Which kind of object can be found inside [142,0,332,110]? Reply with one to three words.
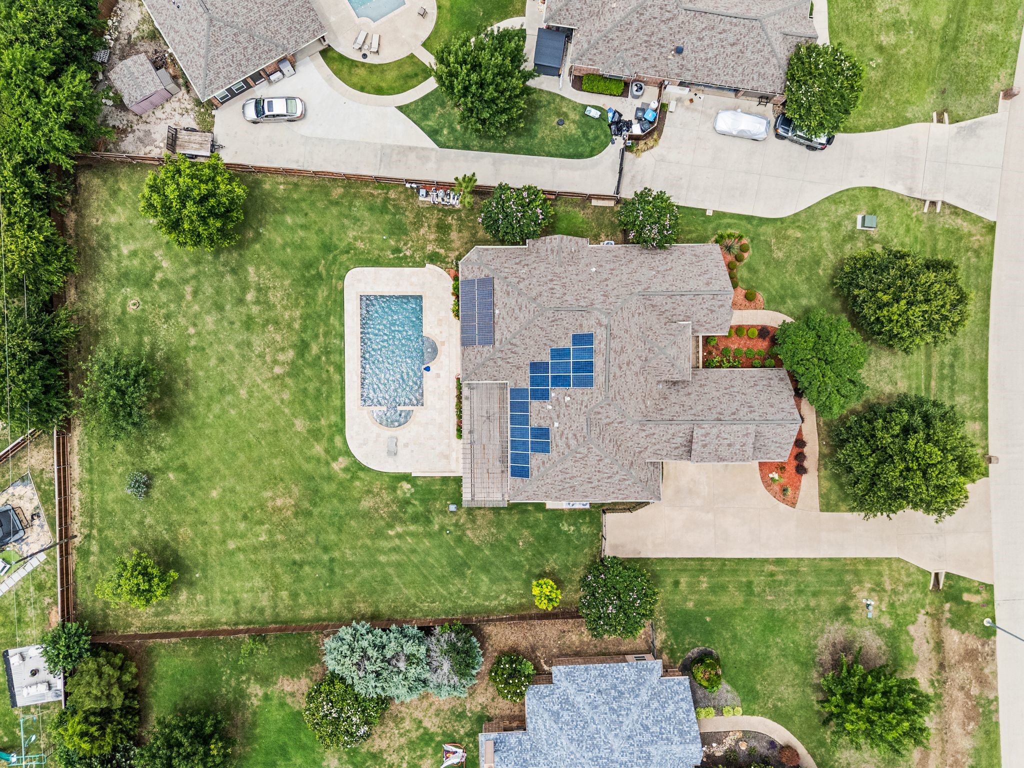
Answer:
house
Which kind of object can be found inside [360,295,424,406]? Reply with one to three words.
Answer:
swimming pool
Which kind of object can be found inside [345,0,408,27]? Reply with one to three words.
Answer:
swimming pool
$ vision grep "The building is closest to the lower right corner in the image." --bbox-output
[478,647,702,768]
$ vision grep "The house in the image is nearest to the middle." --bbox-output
[459,234,802,502]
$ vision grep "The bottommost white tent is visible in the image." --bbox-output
[441,743,466,768]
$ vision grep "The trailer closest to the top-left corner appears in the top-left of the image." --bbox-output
[164,121,226,158]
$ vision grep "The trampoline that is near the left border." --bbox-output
[0,505,28,545]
